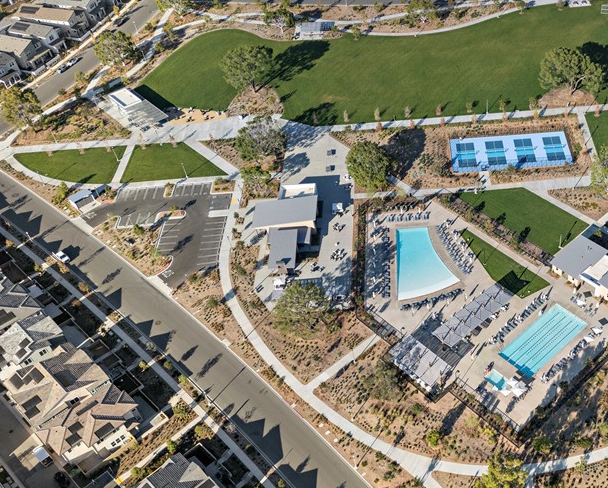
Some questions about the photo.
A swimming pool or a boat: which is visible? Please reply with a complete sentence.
Looking from above, you can make out a swimming pool.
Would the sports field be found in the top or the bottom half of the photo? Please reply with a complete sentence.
The sports field sits in the top half of the picture.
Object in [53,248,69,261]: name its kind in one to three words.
vehicle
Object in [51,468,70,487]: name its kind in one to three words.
car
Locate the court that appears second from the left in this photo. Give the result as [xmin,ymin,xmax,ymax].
[484,140,507,165]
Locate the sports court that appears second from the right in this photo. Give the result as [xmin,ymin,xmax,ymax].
[513,138,536,162]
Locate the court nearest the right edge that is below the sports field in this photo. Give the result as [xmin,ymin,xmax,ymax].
[542,136,566,160]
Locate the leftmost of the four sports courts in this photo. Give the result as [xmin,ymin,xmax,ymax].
[456,142,478,167]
